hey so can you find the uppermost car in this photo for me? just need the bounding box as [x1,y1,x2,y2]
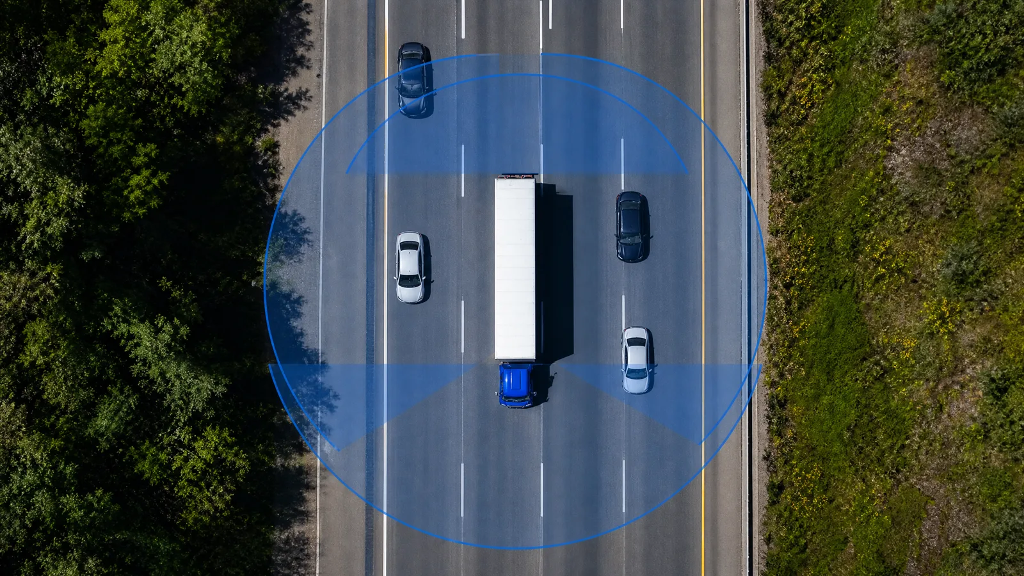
[395,43,430,120]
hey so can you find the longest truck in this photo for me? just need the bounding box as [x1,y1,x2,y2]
[494,174,538,410]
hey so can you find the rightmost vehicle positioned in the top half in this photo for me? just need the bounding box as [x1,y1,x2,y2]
[614,192,648,262]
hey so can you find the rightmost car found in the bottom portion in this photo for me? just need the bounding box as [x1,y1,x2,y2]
[619,326,653,393]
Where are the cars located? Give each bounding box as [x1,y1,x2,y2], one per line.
[395,43,430,120]
[619,326,653,393]
[393,231,426,304]
[614,192,648,262]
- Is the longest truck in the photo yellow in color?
No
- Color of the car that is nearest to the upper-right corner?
black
